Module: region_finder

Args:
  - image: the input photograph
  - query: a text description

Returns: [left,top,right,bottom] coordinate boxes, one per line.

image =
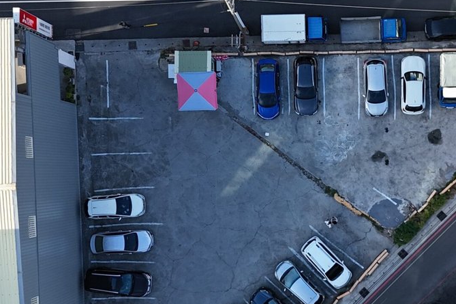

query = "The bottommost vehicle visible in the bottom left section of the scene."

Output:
[83,267,152,300]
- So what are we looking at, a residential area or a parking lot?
parking lot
